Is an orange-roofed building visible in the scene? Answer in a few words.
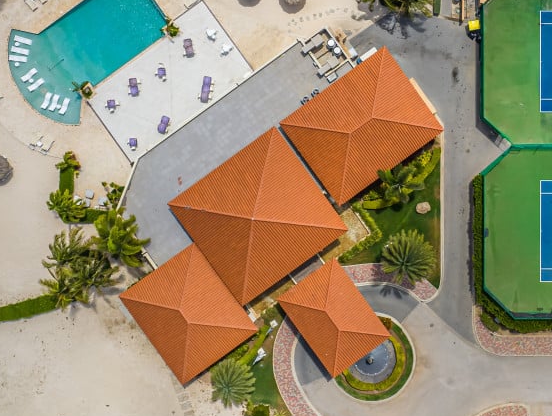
Yes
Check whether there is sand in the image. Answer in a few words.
Yes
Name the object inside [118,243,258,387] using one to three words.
building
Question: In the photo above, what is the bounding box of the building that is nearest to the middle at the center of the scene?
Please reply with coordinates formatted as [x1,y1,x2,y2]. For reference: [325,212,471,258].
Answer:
[167,127,348,308]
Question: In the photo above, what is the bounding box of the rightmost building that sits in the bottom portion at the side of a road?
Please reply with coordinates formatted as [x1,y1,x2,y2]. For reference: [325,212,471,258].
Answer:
[276,259,391,379]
